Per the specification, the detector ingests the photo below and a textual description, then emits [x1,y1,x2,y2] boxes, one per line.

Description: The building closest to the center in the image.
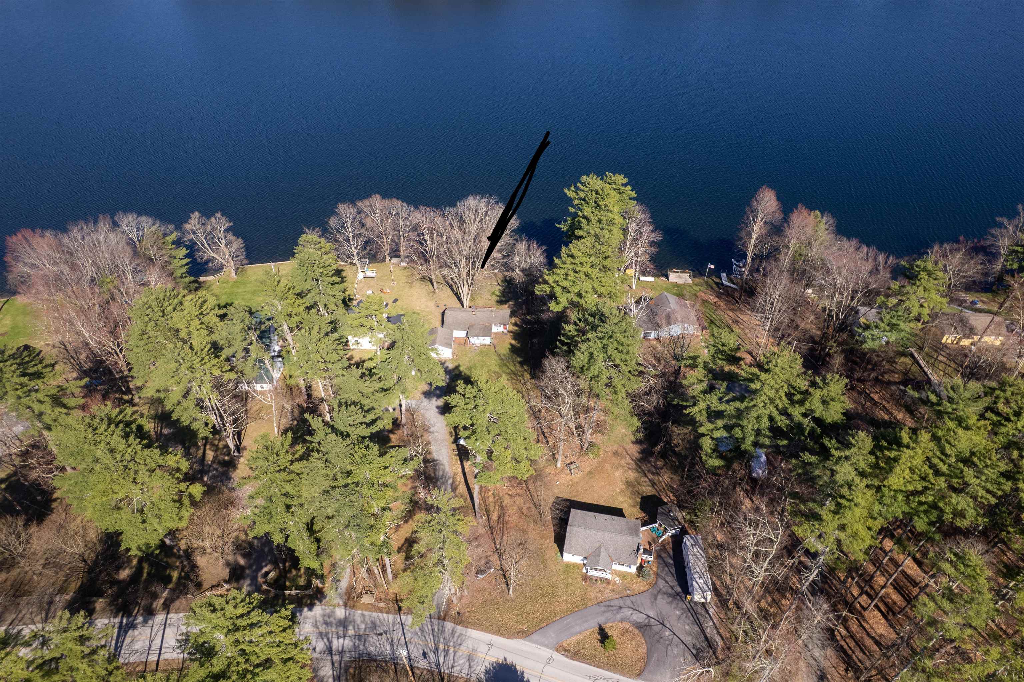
[429,301,510,358]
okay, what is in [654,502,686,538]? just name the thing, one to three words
gazebo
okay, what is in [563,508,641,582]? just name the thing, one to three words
house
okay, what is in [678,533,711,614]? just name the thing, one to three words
trailer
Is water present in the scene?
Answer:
Yes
